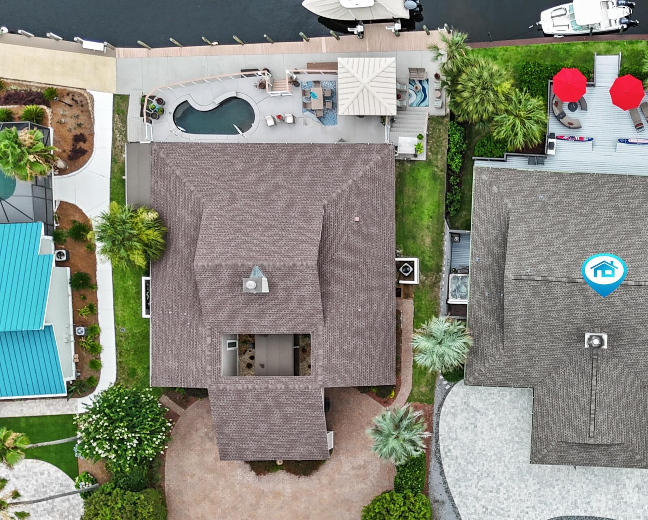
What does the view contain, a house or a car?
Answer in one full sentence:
Visible in the photo is a house.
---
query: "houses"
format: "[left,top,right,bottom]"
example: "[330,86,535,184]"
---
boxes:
[125,142,397,461]
[463,164,648,470]
[0,221,81,400]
